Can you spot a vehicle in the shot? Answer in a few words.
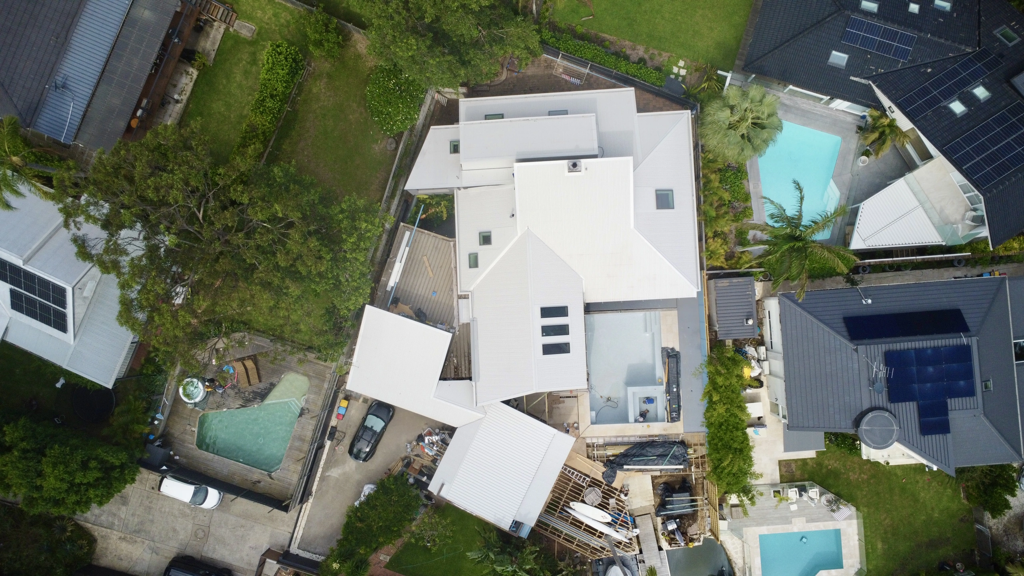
Yes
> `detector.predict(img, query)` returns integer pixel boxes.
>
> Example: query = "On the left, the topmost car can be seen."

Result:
[350,400,394,465]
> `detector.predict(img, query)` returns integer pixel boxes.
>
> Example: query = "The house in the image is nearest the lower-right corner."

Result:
[764,275,1024,479]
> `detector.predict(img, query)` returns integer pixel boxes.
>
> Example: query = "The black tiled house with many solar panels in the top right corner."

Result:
[717,0,1024,250]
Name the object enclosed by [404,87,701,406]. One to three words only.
house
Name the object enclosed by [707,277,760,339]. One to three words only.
shed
